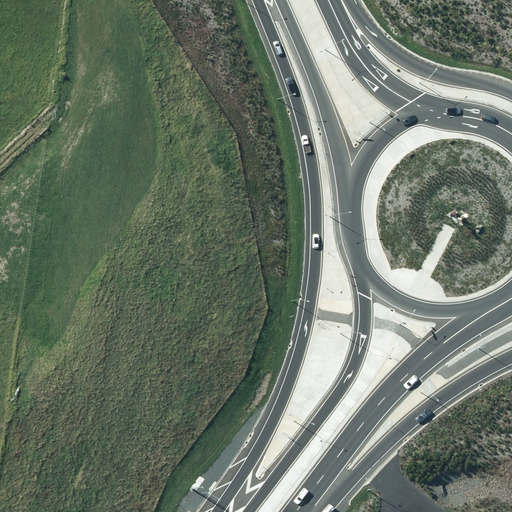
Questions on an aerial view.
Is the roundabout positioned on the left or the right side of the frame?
right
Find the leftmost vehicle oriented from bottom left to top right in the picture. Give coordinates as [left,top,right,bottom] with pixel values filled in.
[294,488,309,504]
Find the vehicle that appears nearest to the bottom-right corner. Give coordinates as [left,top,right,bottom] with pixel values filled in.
[417,410,434,424]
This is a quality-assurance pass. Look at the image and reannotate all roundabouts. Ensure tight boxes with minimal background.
[334,93,512,322]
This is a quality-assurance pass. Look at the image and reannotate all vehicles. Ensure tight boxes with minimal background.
[288,78,298,94]
[294,488,309,504]
[321,504,332,512]
[447,108,462,115]
[482,114,498,124]
[313,234,320,249]
[404,115,420,126]
[274,41,284,56]
[417,410,434,424]
[404,376,419,388]
[302,135,312,154]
